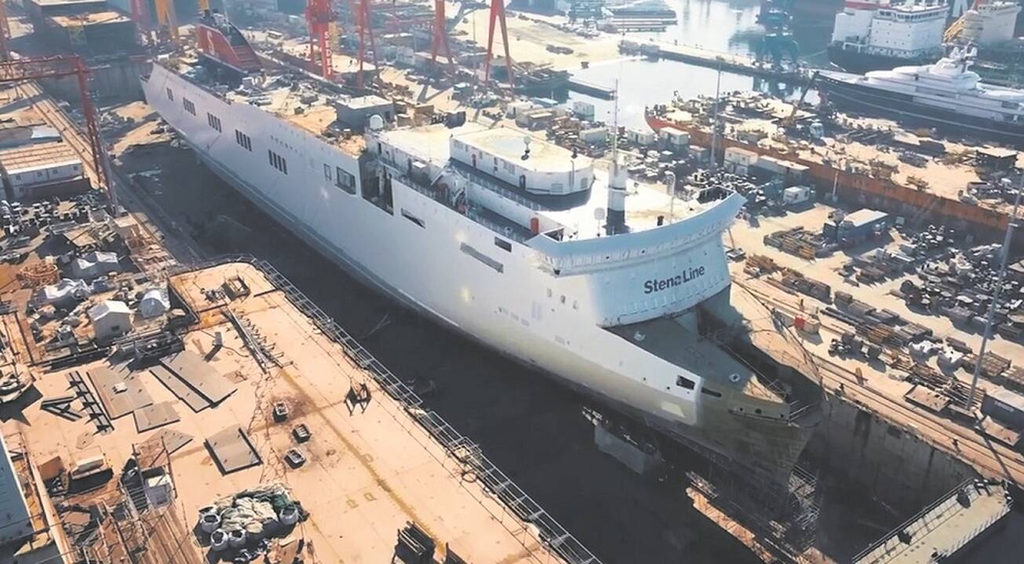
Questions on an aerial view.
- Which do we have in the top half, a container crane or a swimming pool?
container crane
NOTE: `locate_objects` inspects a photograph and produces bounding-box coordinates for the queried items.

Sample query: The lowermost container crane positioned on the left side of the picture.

[0,65,121,217]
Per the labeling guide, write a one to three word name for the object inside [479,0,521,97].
container crane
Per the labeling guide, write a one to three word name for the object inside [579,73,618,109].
pier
